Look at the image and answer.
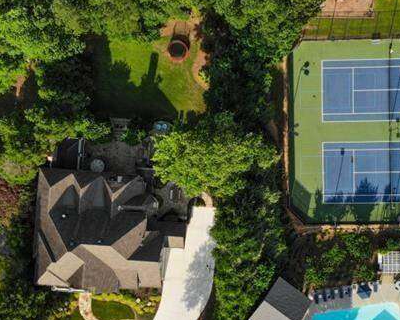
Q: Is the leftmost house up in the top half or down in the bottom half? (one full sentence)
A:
Seen from above, the leftmost house lies in the bottom half of the view.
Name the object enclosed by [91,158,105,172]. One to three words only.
umbrella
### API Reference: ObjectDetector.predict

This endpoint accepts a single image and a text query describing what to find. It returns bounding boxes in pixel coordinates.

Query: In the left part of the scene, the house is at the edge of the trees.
[34,138,184,293]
